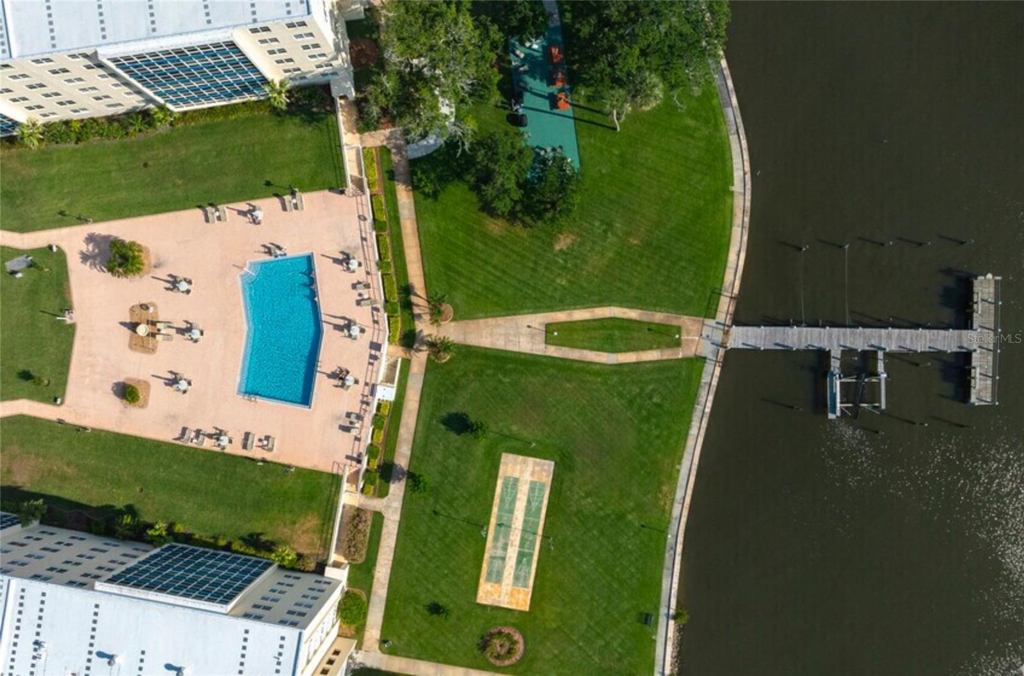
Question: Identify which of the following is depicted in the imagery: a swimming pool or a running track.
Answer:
swimming pool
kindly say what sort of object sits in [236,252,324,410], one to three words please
swimming pool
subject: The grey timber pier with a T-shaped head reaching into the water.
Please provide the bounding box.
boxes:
[726,276,1003,405]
